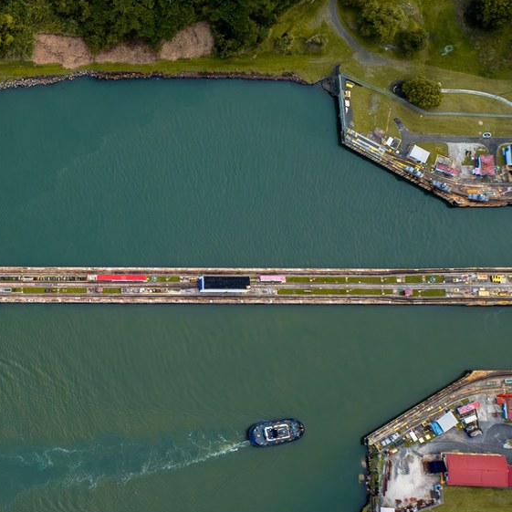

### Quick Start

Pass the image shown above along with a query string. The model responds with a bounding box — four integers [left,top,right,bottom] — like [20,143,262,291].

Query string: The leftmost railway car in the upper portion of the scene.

[404,165,425,178]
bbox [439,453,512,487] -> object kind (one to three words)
building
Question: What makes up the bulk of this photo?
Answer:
water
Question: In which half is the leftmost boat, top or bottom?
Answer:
bottom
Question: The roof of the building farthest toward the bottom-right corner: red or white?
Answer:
red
